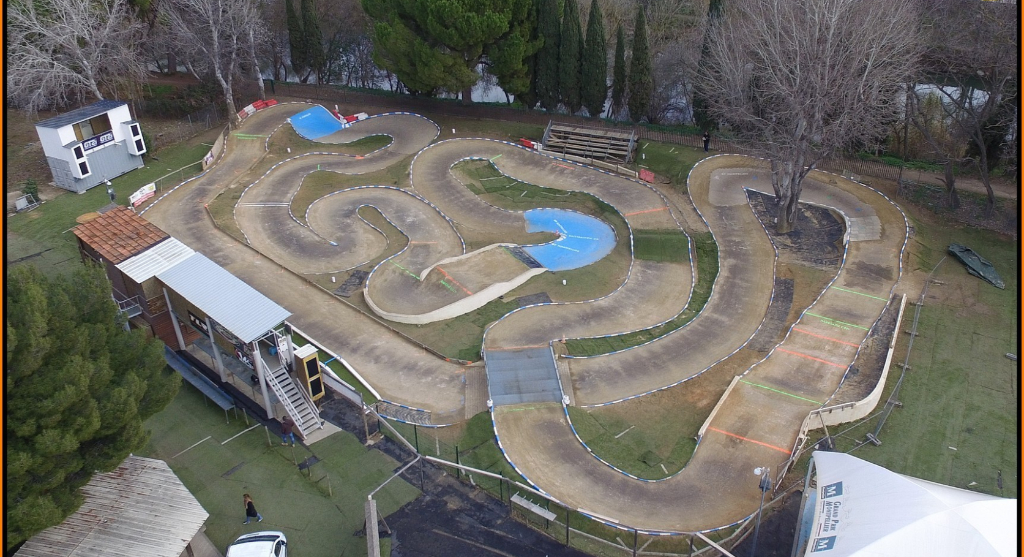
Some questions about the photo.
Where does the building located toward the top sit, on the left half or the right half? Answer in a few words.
left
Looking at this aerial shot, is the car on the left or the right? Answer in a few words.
left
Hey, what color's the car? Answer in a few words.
white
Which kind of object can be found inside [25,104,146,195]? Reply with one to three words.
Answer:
building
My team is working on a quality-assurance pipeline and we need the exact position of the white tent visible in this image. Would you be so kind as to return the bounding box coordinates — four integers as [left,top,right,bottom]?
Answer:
[799,451,1024,557]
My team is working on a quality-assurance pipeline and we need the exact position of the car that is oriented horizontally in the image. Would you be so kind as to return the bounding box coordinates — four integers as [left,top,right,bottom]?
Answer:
[234,530,294,557]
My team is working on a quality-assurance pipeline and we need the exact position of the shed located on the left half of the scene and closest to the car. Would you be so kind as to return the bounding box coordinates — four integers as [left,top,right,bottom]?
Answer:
[28,454,215,557]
